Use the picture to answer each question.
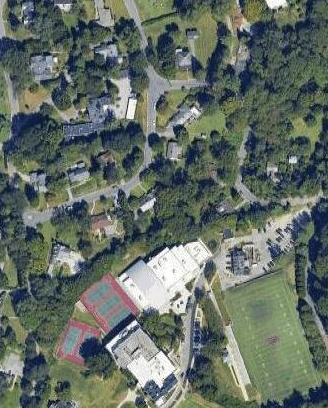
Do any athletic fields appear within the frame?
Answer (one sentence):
Yes, there is an athletic field in the image.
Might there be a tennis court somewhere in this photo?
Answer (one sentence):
Yes, I can see a tennis court in this picture.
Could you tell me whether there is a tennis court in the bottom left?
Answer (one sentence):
Yes, the scene does show a tennis court in the bottom left.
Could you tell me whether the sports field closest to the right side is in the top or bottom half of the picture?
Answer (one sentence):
The bottom half of the photo is where the sports field closest to the right side is.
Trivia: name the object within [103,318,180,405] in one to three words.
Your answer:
building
